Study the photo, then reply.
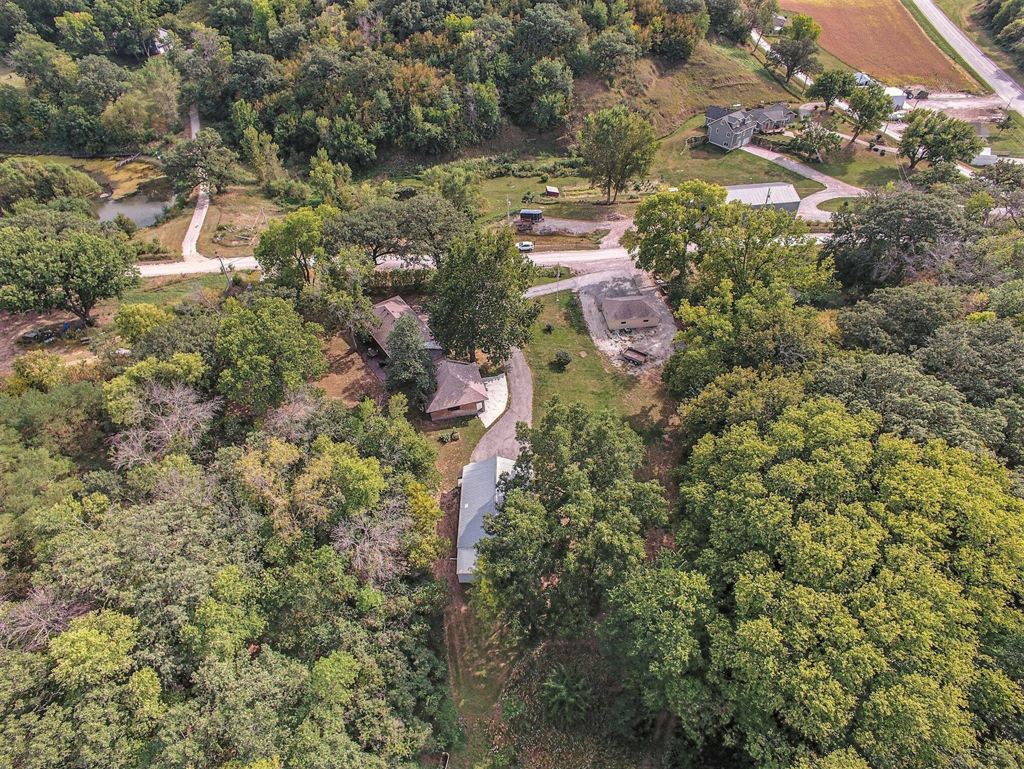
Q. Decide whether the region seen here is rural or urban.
rural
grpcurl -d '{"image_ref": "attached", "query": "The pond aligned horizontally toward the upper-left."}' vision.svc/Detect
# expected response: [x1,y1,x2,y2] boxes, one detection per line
[0,155,178,229]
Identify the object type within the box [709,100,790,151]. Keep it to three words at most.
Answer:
house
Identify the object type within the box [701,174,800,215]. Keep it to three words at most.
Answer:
barn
